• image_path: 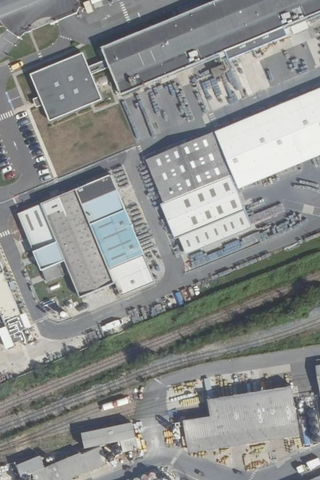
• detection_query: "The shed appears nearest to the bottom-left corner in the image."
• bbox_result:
[16,455,45,478]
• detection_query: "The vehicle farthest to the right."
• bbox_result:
[297,458,320,474]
